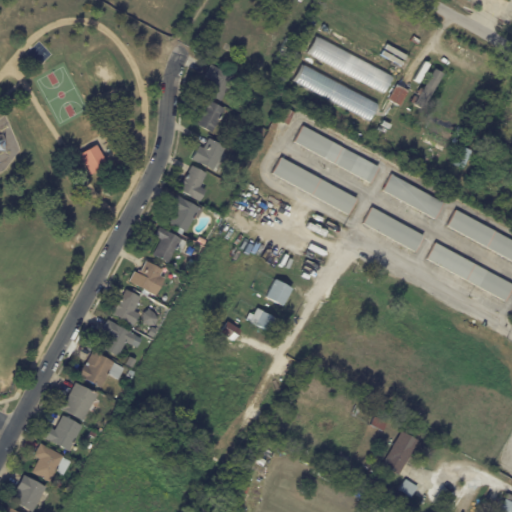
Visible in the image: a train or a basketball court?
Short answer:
basketball court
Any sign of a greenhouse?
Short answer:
Yes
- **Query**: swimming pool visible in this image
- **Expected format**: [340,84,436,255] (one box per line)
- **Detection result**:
[193,212,212,235]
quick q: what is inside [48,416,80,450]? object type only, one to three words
house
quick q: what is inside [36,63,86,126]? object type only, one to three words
basketball court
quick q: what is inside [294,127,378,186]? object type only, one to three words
building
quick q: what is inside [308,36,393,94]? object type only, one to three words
greenhouse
